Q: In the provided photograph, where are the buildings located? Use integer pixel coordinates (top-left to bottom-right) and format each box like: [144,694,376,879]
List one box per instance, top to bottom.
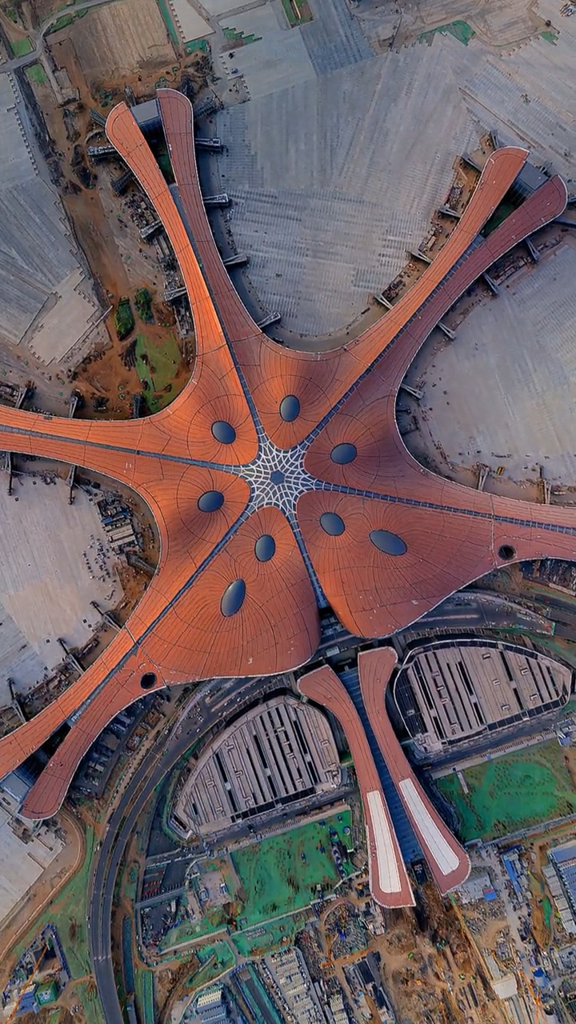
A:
[0,88,576,820]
